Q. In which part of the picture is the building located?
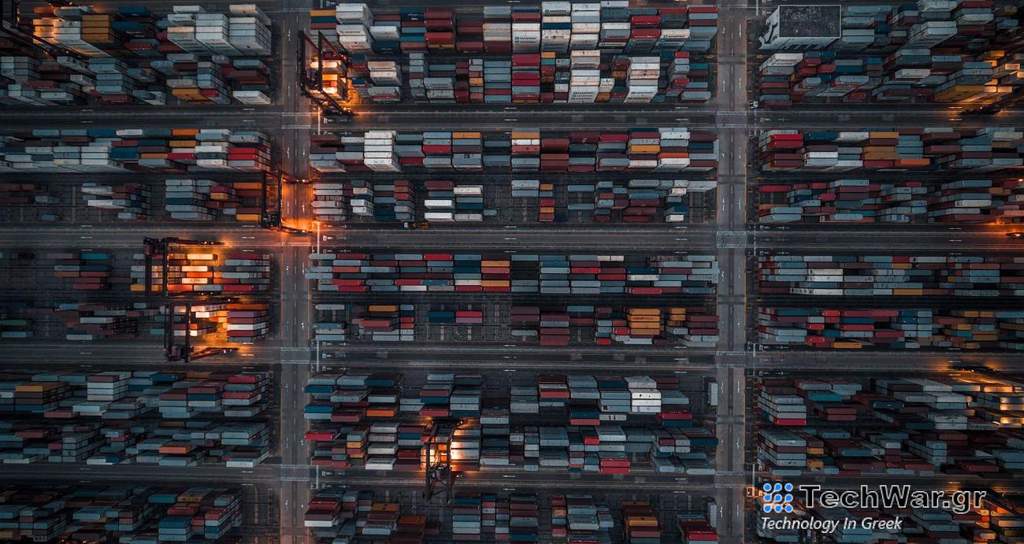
top right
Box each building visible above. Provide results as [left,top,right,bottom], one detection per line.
[757,4,841,51]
